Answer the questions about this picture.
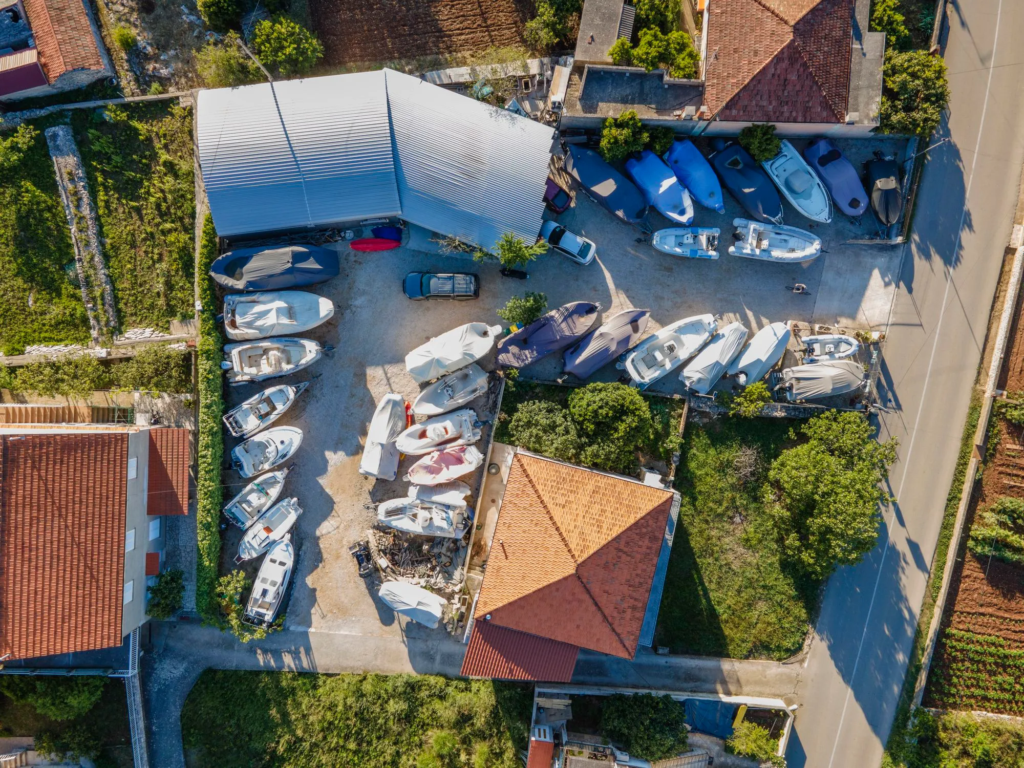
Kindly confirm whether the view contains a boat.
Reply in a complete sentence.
Yes, you can see a boat in this photo.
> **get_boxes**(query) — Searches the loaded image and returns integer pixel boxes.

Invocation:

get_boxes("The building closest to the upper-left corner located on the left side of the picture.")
[0,0,127,109]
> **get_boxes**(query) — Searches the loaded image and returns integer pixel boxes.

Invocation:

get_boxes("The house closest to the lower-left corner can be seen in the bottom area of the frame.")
[0,424,200,680]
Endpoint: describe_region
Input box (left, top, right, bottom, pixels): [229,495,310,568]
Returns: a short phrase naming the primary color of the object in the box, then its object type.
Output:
white boat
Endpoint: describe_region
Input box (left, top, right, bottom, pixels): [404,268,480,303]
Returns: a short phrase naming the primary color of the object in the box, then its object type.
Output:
blue truck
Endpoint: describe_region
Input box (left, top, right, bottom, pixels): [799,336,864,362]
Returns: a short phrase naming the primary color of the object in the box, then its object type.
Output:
white boat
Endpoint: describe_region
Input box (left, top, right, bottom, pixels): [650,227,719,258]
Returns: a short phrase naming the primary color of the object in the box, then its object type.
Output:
blue boat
